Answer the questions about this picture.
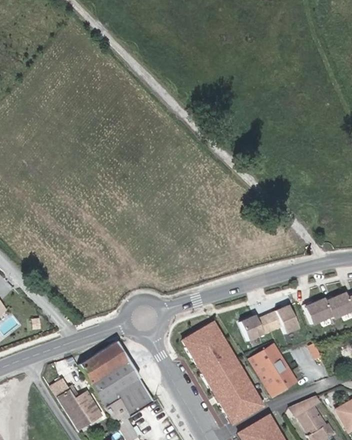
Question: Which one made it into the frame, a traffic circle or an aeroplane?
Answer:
traffic circle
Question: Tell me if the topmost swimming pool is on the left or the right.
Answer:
left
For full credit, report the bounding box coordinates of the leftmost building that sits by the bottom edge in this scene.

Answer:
[48,378,103,432]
